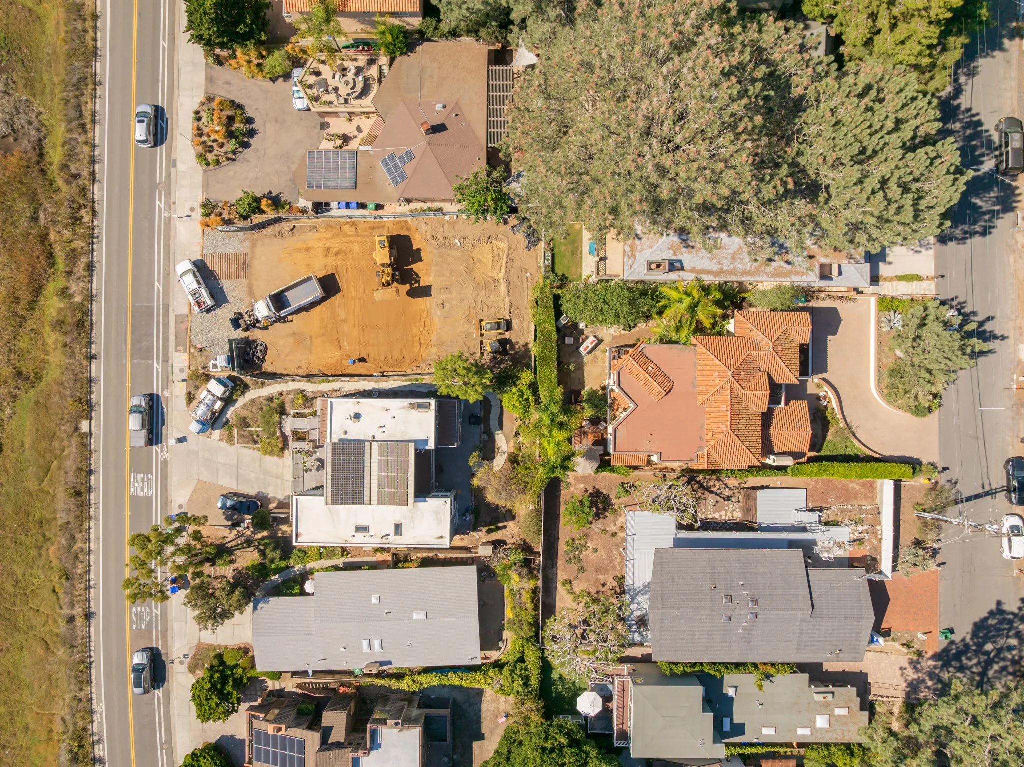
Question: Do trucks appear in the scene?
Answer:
Yes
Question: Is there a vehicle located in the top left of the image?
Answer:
Yes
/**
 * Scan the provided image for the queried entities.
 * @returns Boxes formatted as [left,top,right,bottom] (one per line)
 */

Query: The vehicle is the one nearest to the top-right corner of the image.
[1001,118,1024,175]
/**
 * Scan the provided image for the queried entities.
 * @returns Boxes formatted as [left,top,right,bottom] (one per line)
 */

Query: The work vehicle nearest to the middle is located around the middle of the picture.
[482,339,517,357]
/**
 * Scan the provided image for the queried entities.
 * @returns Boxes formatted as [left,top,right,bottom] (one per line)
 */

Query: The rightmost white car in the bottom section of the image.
[1002,515,1024,558]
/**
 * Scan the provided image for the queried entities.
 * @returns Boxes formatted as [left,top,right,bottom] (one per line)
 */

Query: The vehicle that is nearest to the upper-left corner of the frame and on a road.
[133,105,157,149]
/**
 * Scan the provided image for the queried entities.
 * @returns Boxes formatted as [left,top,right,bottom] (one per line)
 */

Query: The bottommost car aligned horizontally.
[217,494,262,517]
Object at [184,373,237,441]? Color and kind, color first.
white truck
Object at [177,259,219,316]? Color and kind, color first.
white truck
